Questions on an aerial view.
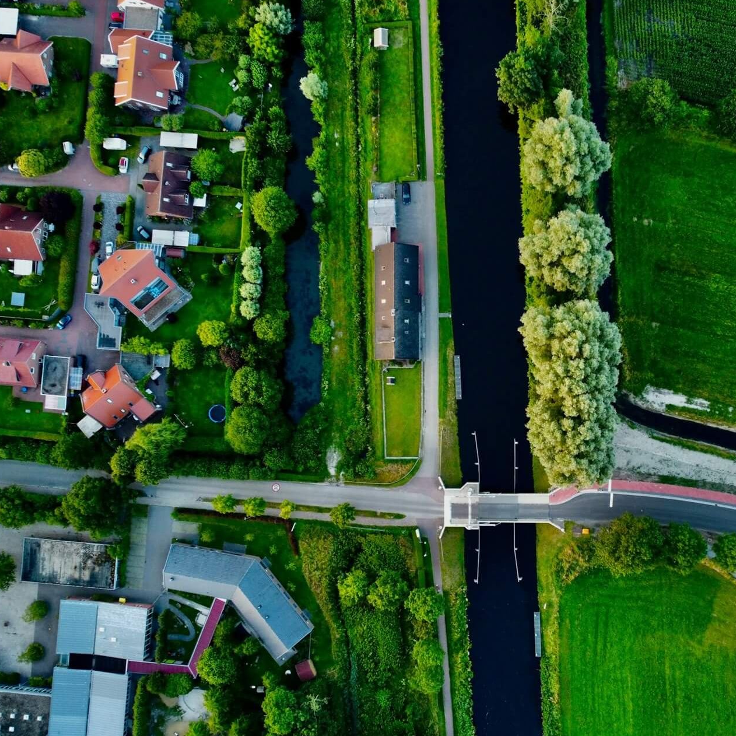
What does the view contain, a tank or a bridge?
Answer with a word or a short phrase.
bridge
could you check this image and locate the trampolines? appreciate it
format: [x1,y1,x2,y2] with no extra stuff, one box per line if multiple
[207,404,226,423]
